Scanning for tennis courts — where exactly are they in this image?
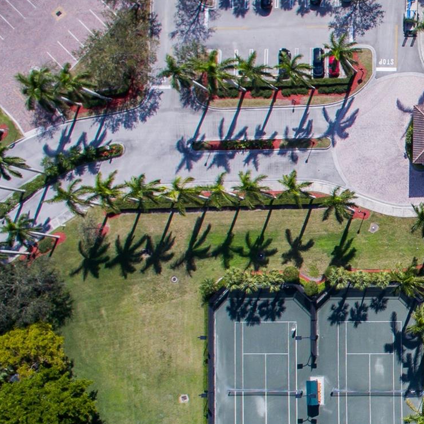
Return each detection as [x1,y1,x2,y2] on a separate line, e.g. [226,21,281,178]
[319,286,422,424]
[215,286,319,424]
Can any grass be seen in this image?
Yes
